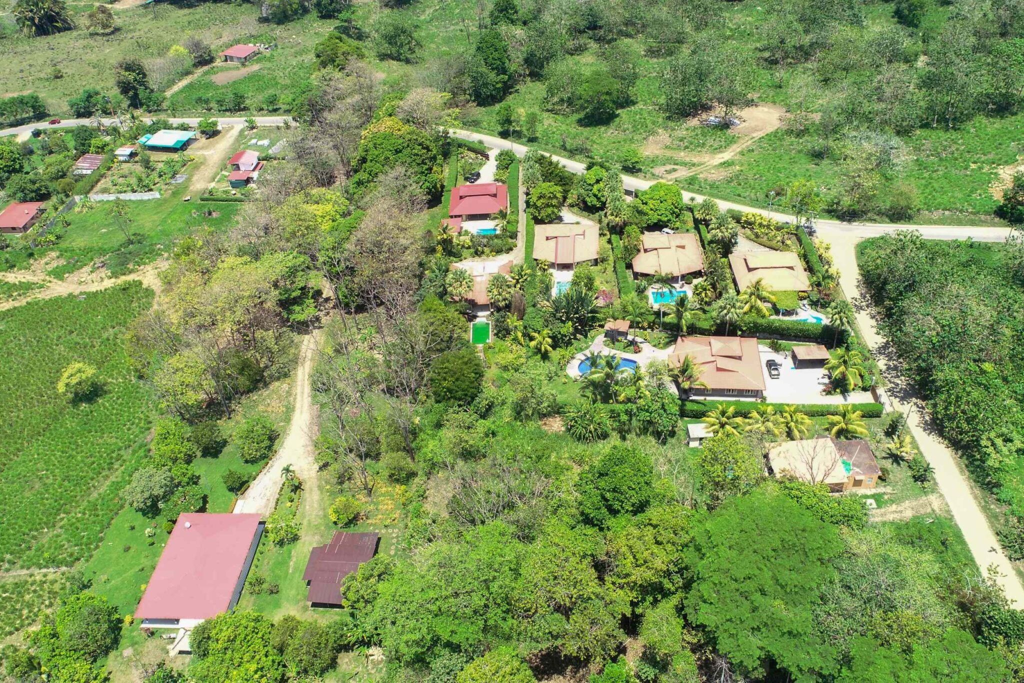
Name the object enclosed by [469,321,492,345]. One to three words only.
swimming pool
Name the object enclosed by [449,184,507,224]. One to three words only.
house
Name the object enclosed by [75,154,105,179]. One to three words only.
barn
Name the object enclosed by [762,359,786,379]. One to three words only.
vehicle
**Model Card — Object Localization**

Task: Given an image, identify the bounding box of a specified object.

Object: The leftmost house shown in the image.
[0,202,44,236]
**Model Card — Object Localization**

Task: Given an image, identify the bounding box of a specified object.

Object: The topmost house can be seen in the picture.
[220,45,258,63]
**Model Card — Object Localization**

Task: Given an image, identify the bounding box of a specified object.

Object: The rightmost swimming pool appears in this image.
[777,315,825,327]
